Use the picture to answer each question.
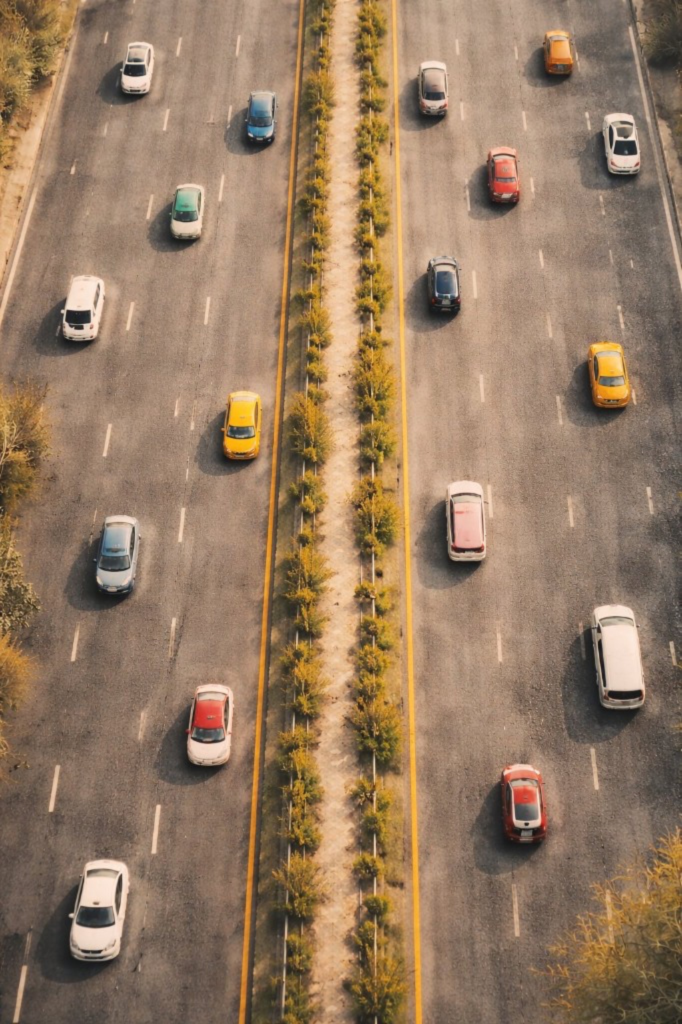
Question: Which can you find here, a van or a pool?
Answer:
van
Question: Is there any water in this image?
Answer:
No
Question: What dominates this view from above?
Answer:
paved ground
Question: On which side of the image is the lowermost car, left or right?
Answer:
left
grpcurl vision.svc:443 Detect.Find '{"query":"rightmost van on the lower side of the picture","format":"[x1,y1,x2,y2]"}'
[591,605,645,709]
